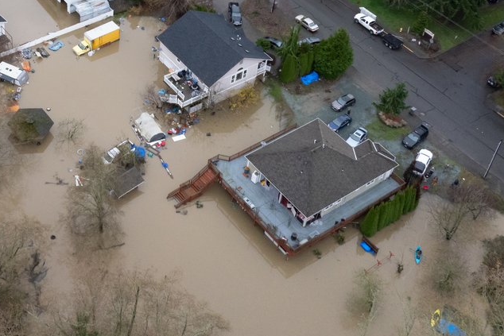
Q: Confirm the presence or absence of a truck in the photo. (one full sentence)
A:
Yes, a truck is visible in the scene.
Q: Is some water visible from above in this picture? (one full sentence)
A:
Yes, there's water in this view.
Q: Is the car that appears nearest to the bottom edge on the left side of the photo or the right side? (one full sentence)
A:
The car that appears nearest to the bottom edge sits on the right side.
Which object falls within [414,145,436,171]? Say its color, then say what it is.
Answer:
white car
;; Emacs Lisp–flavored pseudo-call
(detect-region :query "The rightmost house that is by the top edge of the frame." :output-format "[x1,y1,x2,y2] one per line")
[155,11,273,107]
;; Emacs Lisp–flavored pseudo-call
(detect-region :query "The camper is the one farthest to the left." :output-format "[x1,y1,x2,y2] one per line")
[0,60,28,87]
